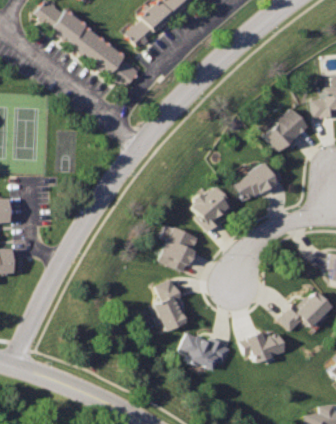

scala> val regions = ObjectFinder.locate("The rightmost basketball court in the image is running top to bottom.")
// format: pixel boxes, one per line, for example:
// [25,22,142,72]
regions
[54,130,76,174]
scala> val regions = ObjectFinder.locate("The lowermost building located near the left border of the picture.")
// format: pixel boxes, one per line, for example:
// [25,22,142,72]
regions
[0,248,16,274]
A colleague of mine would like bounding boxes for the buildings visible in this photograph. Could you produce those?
[308,77,336,118]
[31,0,138,84]
[239,332,286,364]
[266,106,306,153]
[302,406,336,424]
[174,332,230,370]
[122,0,188,44]
[278,288,330,335]
[324,255,336,287]
[324,350,336,379]
[192,186,231,232]
[231,163,276,203]
[0,198,12,224]
[157,226,196,274]
[150,280,186,332]
[0,248,16,274]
